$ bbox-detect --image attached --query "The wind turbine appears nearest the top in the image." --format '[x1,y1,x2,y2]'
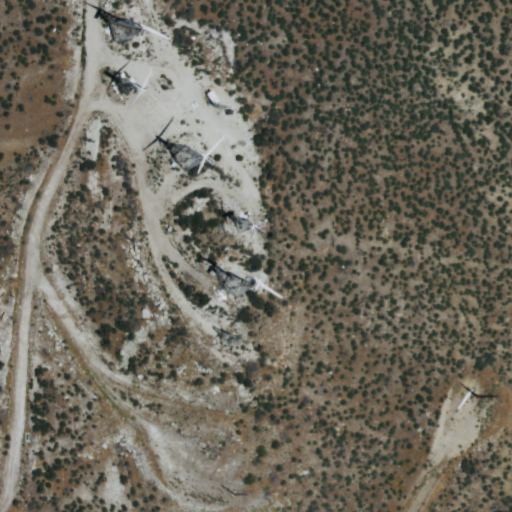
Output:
[109,20,164,44]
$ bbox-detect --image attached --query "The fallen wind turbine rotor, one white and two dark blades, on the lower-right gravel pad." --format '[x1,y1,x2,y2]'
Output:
[460,382,498,410]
